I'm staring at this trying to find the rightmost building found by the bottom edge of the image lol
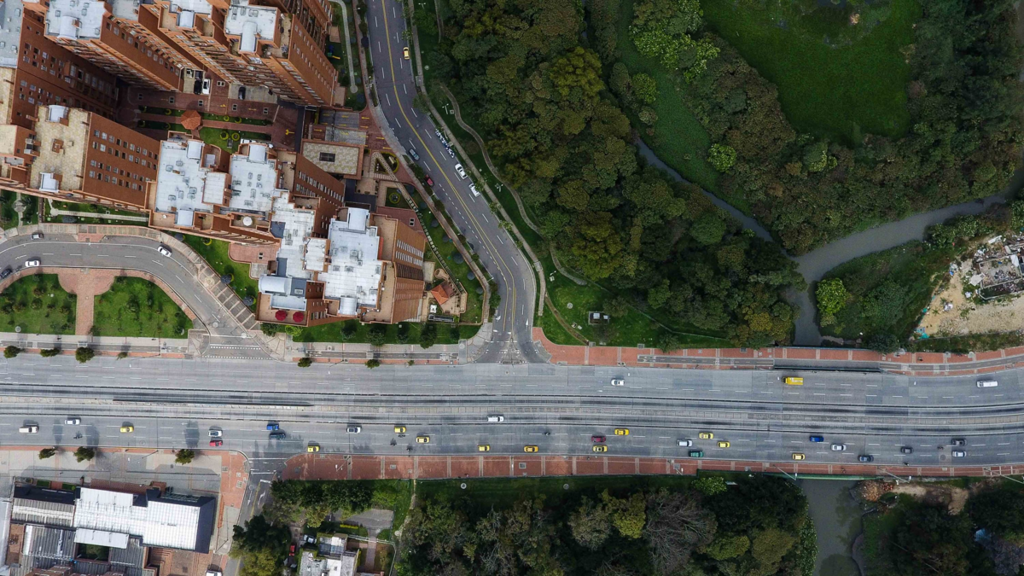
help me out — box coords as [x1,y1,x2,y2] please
[299,530,359,576]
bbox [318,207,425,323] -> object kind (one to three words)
building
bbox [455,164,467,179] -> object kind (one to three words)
vehicle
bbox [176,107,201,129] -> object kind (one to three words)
gazebo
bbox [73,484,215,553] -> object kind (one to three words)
building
